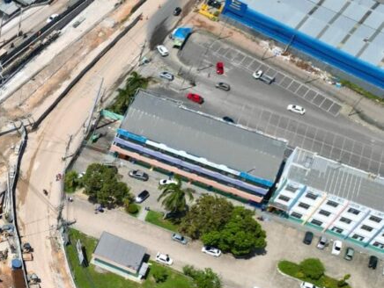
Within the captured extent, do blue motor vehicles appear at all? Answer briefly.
Yes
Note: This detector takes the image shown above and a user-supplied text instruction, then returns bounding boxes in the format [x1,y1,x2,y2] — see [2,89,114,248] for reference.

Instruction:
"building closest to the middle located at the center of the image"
[111,89,292,204]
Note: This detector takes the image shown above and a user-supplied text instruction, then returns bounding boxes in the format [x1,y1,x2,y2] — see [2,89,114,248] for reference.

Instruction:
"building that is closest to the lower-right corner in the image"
[265,145,384,257]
